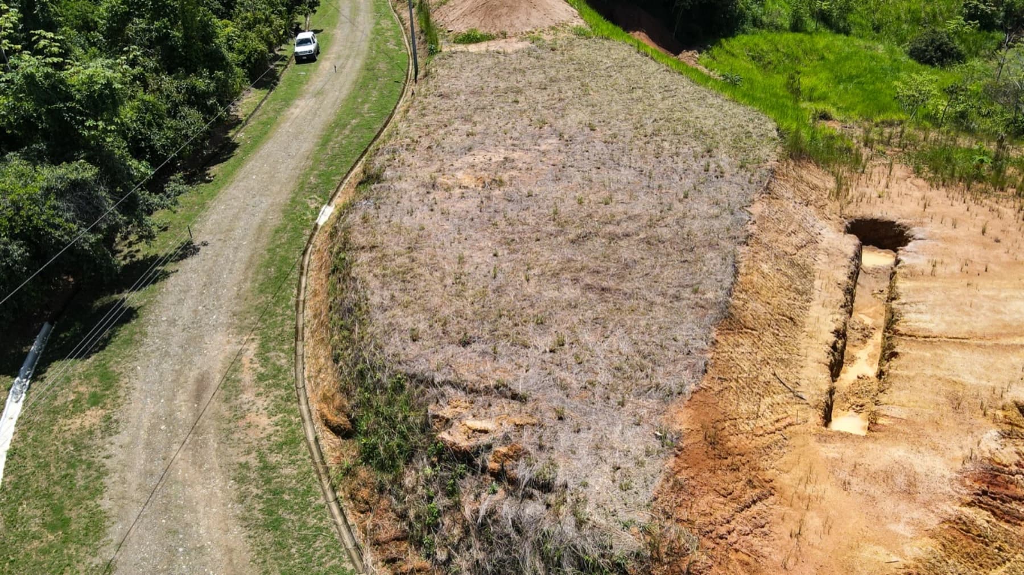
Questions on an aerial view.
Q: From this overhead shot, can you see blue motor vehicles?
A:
No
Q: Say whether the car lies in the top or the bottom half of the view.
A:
top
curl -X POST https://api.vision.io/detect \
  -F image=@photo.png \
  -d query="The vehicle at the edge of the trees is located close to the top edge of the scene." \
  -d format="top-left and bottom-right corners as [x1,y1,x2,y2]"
[290,26,321,60]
